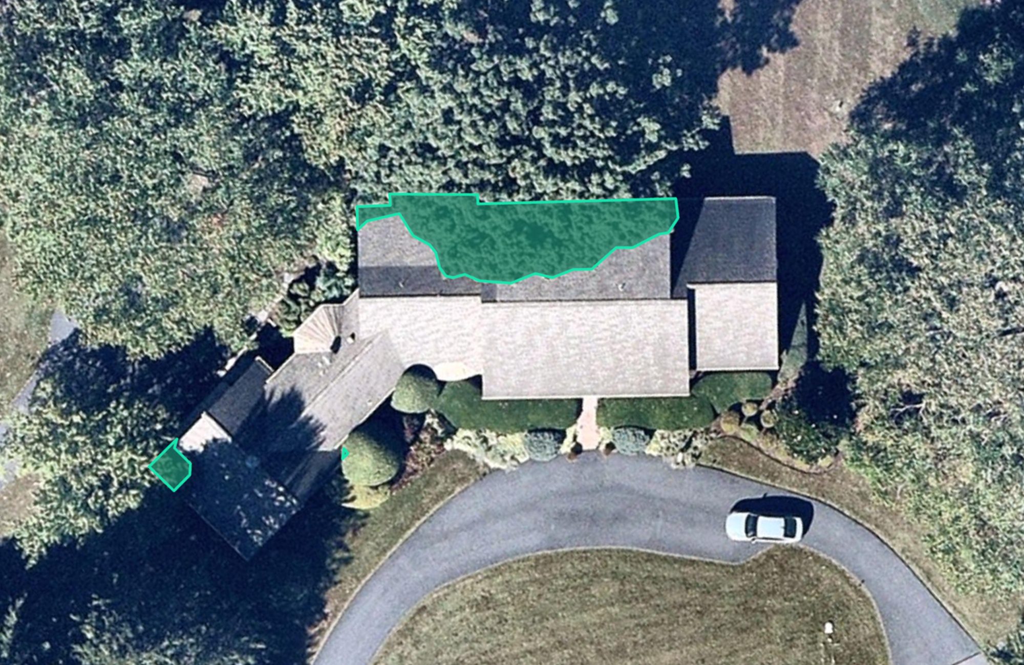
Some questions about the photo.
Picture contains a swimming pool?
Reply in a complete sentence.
No, no swimming pool can be seen from above.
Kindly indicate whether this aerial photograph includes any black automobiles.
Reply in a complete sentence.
No, there's no black automobile here.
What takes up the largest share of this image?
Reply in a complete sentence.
The scene is dominated by trees.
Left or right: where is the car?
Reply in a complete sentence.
The car appears in the right half of the scene.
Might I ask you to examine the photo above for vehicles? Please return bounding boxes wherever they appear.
[725,510,803,544]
